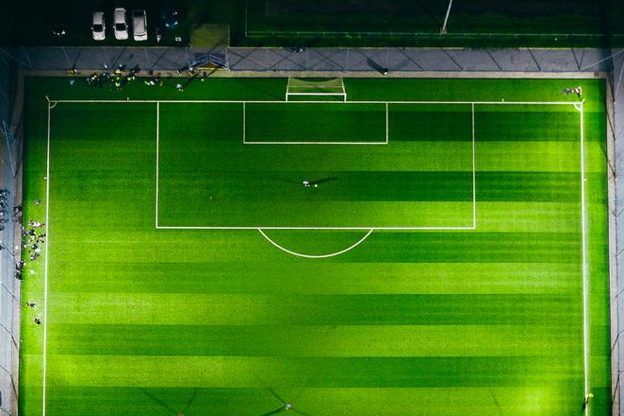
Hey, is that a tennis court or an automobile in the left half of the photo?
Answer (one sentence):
The feature located in the left half of the photo is an automobile.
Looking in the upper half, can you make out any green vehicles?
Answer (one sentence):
No, looking in the upper half, there is no green vehicle.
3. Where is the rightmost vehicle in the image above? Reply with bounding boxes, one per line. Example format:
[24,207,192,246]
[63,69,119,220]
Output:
[162,0,179,35]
